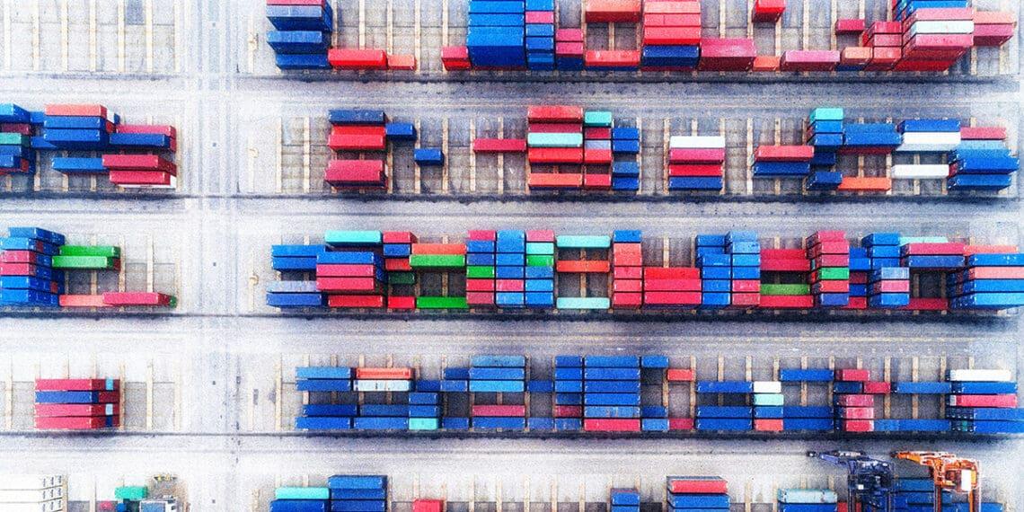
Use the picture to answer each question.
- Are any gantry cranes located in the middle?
No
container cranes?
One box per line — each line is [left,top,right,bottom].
[889,450,985,512]
[810,450,896,512]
